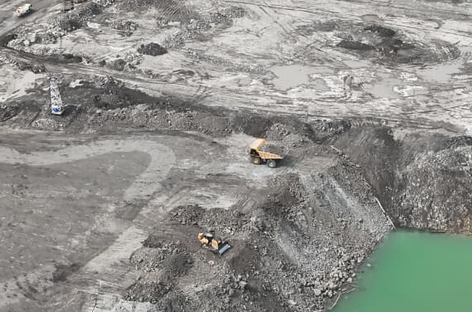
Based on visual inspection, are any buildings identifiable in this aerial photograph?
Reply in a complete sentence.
No, the frame has no building in it.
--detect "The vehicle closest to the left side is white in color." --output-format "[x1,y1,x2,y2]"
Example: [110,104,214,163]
[12,2,33,16]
